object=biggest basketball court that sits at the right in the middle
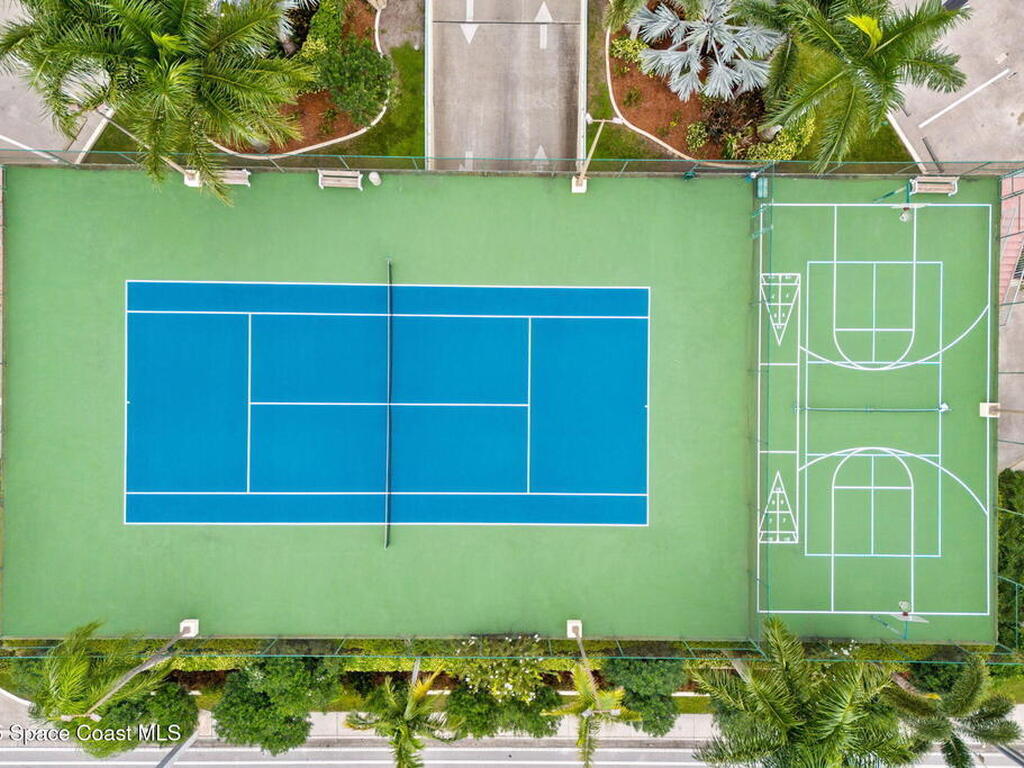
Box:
[747,179,1000,637]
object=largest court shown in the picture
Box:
[3,166,751,640]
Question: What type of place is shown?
sports ground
